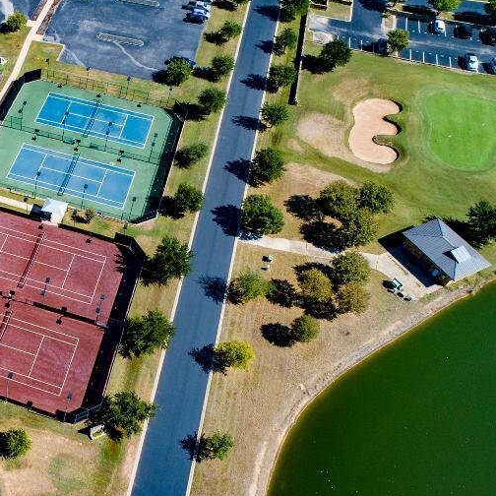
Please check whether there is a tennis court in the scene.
Yes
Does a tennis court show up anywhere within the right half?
No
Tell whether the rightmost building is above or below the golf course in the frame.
below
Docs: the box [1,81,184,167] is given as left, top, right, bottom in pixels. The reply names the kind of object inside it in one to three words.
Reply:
tennis court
